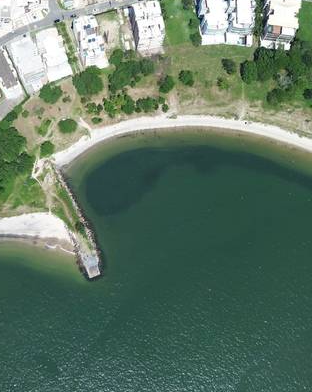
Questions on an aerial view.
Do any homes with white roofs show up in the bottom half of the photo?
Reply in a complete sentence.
No, I can find no home with a white roof in the bottom half of the photo.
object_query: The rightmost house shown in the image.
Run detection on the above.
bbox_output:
[257,0,302,51]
